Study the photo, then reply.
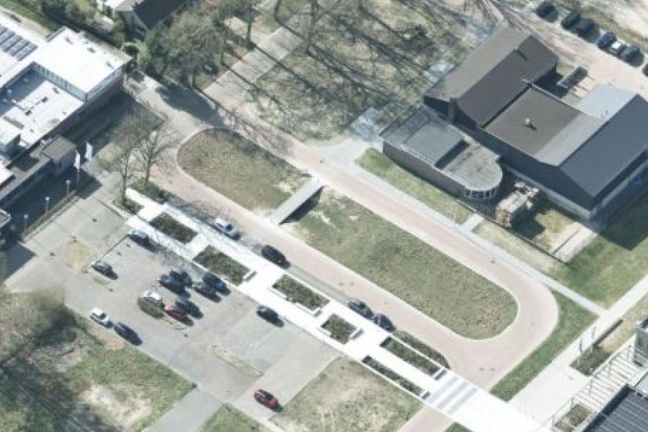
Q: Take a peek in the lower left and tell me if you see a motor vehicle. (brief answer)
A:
Yes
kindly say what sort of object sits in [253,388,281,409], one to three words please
car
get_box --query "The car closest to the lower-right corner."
[368,311,396,332]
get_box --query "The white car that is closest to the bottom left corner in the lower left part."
[85,305,112,327]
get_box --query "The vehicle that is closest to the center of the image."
[259,243,288,266]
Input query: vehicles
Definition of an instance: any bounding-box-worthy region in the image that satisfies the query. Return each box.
[125,226,154,247]
[608,37,628,55]
[189,278,219,300]
[559,10,582,31]
[253,388,281,409]
[167,266,194,286]
[213,217,239,237]
[174,296,203,318]
[163,299,189,321]
[88,256,117,280]
[156,270,185,292]
[536,0,557,20]
[642,64,648,76]
[255,304,282,325]
[368,311,396,332]
[112,321,142,343]
[574,15,596,36]
[596,30,617,50]
[619,42,642,62]
[85,305,112,327]
[259,243,288,266]
[345,296,374,319]
[201,269,230,292]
